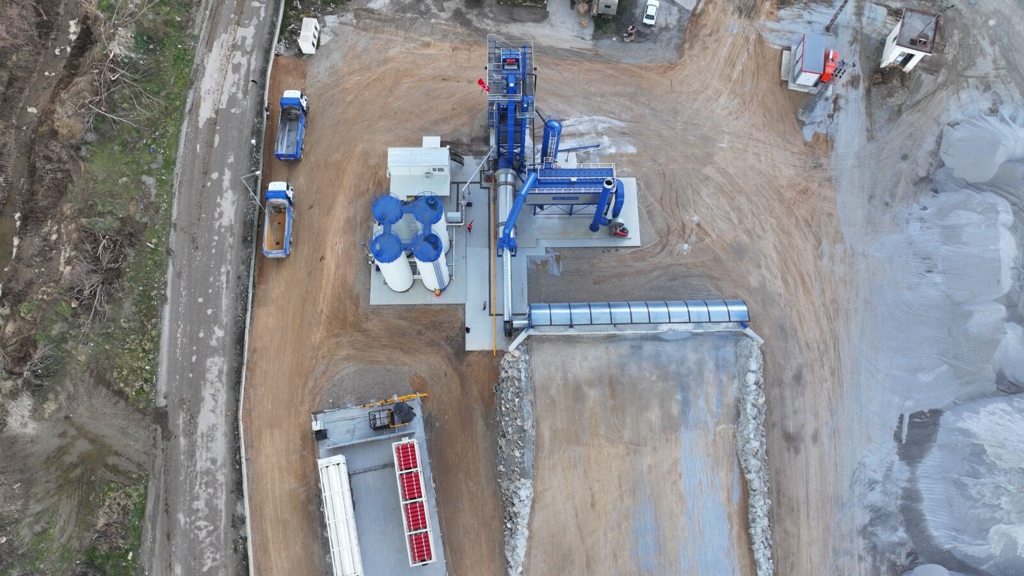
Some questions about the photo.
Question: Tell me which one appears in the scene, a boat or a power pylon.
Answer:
power pylon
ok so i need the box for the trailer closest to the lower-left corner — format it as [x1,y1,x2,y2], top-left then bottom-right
[319,455,370,575]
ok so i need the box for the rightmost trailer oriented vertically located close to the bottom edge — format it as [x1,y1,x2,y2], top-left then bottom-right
[391,438,439,567]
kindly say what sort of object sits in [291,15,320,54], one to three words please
building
